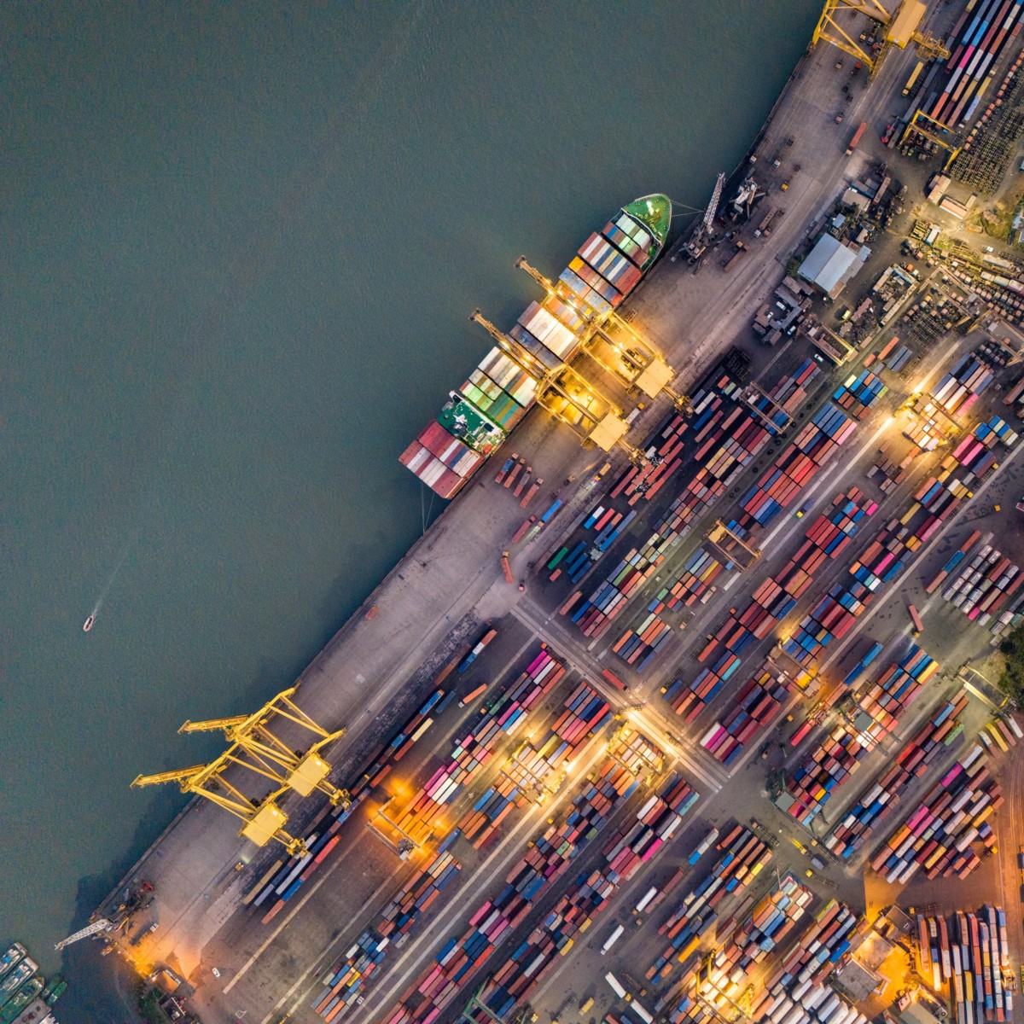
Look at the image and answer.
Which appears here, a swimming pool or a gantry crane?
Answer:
gantry crane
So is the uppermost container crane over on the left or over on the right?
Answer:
right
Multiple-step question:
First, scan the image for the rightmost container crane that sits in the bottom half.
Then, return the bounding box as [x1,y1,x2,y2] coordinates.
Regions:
[939,652,1011,712]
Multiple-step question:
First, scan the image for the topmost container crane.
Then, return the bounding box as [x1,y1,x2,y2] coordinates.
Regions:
[803,0,957,87]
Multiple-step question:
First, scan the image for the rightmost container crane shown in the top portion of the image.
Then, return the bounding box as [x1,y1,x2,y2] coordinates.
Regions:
[962,310,1024,373]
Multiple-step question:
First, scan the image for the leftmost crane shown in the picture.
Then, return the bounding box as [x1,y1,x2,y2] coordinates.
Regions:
[47,901,140,947]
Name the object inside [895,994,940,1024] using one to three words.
shed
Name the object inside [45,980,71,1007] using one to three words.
boat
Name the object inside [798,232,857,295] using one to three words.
building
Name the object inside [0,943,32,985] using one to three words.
boat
